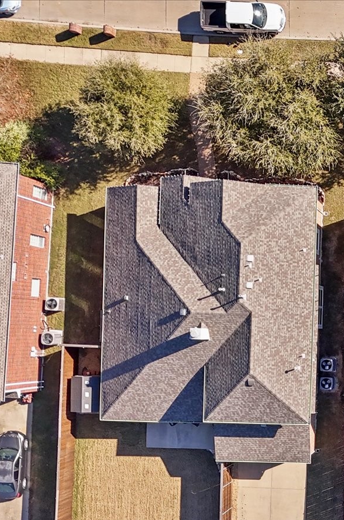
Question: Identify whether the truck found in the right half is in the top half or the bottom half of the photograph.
top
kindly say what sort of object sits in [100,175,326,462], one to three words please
house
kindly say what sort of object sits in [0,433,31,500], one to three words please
car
